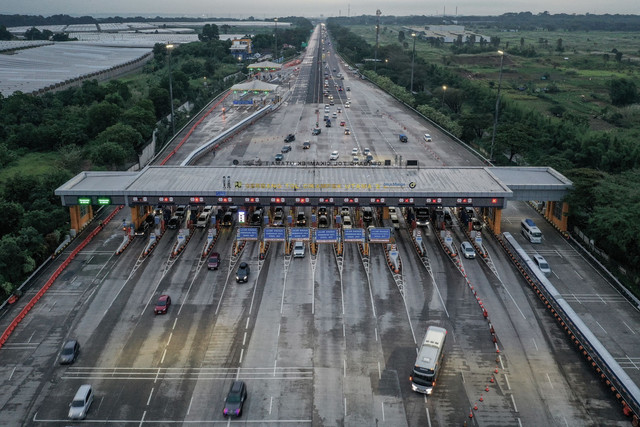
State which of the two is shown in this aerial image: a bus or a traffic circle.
bus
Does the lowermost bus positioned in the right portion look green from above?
No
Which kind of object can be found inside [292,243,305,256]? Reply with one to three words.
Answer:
vehicle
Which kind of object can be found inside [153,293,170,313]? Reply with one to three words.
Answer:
car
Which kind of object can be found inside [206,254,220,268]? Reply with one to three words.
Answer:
vehicle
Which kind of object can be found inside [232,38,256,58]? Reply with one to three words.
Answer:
building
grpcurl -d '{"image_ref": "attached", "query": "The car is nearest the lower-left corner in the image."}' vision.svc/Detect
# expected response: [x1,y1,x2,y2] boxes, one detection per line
[63,389,92,419]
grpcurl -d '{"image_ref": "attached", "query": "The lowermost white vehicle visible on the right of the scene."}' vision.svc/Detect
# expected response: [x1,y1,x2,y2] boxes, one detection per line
[408,328,446,395]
